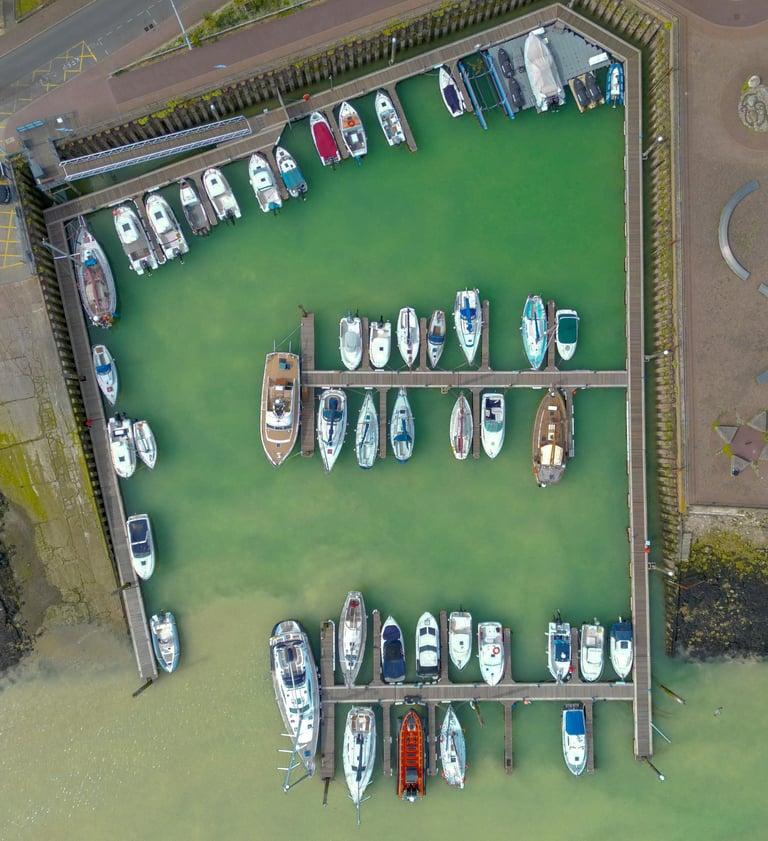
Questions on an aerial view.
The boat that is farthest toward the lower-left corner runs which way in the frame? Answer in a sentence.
The boat that is farthest toward the lower-left corner runs from top to bottom in the image.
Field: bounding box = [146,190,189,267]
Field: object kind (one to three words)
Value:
boat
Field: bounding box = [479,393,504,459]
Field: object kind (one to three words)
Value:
boat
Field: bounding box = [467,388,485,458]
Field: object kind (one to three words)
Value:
pier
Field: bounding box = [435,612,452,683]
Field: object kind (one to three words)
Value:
pier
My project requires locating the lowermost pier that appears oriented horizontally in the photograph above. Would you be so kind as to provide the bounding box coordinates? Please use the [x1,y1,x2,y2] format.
[335,682,634,702]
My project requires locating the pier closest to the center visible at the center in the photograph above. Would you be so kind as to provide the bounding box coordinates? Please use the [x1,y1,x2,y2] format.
[375,388,391,458]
